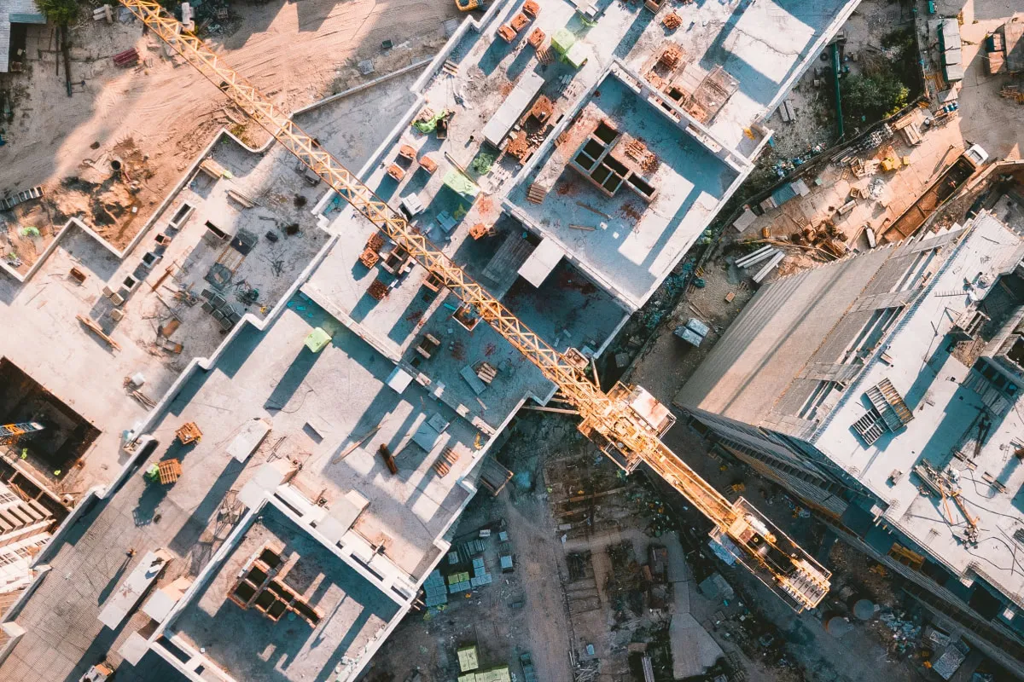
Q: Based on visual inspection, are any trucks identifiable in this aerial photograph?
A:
Yes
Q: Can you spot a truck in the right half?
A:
Yes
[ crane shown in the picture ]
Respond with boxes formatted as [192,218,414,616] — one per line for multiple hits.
[115,0,849,619]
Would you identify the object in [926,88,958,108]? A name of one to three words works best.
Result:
shed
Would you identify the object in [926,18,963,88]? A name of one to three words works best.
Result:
shed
